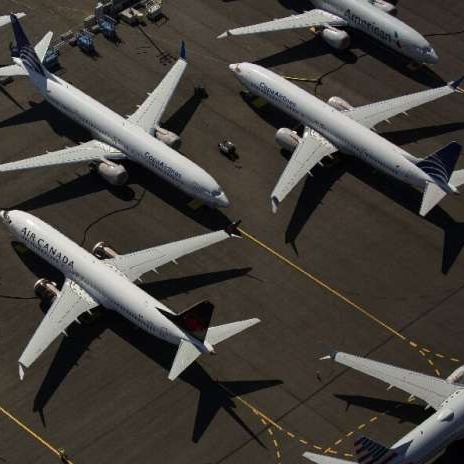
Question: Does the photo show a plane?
Yes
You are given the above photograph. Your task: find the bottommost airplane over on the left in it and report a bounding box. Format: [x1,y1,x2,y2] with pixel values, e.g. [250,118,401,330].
[1,209,260,380]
